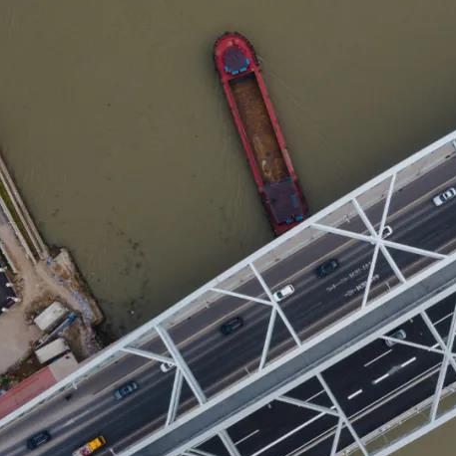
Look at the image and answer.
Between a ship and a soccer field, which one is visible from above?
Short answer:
ship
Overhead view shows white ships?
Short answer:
No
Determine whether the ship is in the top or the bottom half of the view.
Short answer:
top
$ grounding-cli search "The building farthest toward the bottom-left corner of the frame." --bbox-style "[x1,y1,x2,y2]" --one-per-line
[35,338,74,364]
